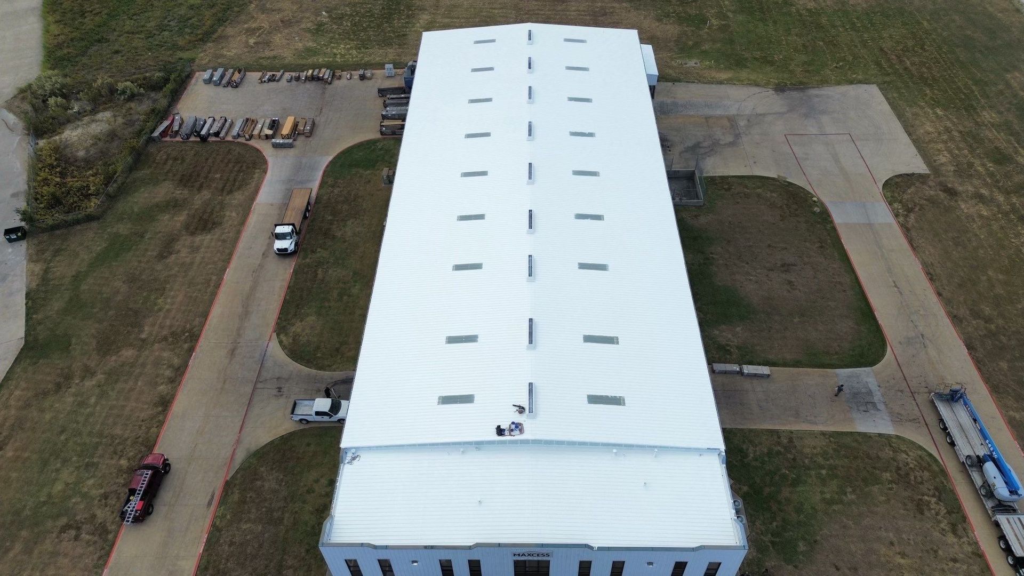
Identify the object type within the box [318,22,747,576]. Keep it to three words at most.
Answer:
warehouse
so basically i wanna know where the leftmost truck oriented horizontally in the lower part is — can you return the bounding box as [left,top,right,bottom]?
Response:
[290,397,347,425]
